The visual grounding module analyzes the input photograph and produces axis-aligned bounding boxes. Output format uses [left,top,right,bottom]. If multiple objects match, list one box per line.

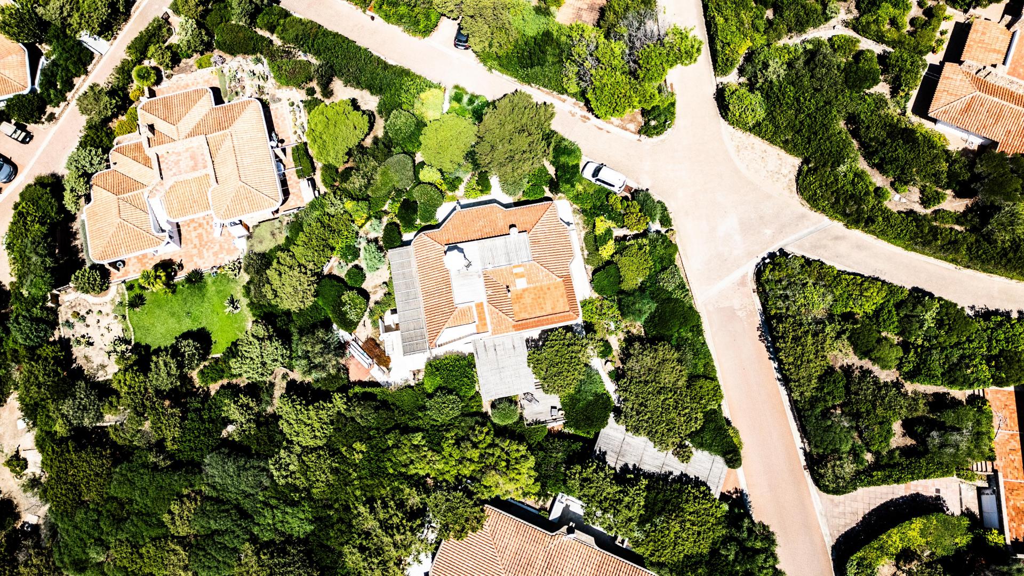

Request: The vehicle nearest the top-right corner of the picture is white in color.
[581,160,629,194]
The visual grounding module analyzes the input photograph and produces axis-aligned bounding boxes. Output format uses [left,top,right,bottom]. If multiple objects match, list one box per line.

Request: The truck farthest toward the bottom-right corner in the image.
[979,487,1009,527]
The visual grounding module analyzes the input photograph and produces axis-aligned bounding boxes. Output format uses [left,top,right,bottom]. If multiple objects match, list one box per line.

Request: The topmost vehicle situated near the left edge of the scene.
[0,117,34,149]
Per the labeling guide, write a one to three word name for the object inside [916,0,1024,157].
house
